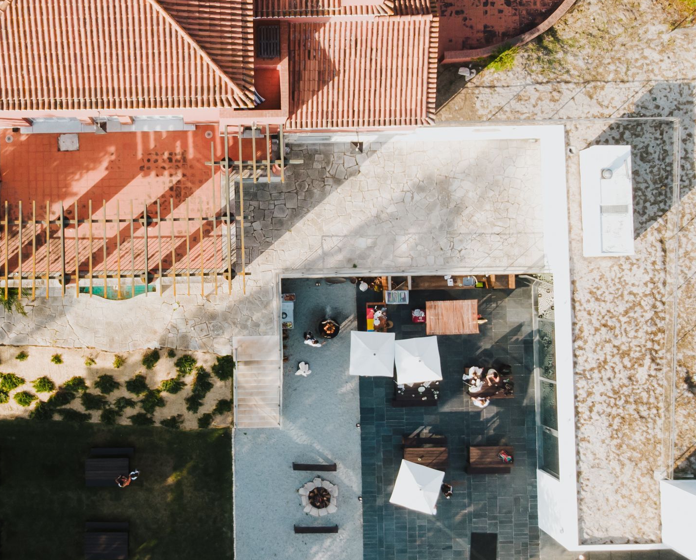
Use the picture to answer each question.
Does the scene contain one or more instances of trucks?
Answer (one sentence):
No, there's no truck here.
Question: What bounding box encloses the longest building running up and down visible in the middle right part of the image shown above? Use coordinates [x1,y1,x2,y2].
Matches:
[419,125,666,551]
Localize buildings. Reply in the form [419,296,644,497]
[0,0,449,144]
[419,125,666,551]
